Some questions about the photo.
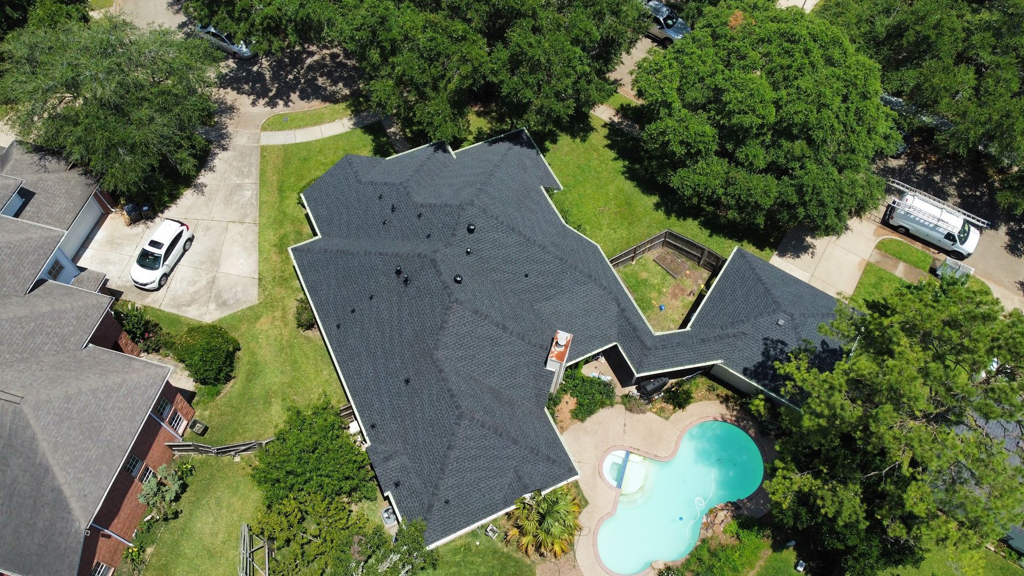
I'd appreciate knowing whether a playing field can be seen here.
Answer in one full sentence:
No, the photo shows no playing field.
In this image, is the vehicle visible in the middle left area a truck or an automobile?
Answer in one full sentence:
The vehicle visible in the middle left area appears to be an automobile.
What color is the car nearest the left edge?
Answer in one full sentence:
In this view, the car nearest the left edge is white.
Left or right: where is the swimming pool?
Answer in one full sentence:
The swimming pool appears in the right half of the scene.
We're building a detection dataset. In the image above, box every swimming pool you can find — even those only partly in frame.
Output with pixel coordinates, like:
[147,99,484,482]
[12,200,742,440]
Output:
[591,415,770,576]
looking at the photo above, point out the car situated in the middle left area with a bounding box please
[125,218,193,293]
